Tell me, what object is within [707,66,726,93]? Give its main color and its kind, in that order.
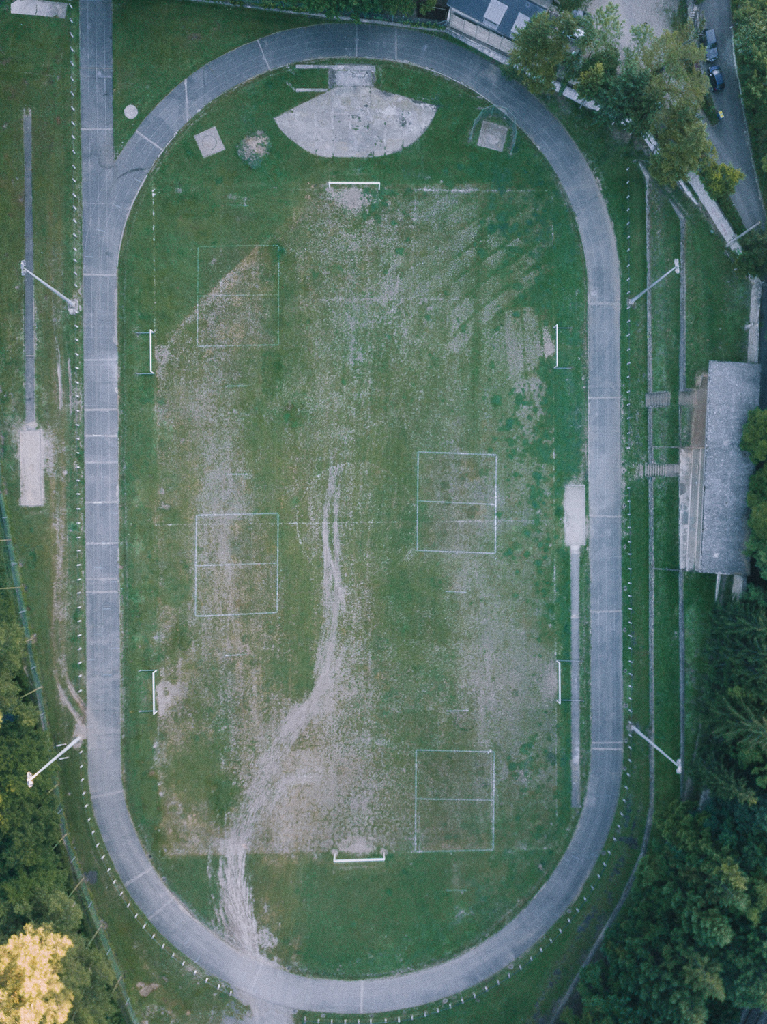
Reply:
blue car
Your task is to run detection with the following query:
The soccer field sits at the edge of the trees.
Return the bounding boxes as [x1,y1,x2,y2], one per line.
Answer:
[116,57,592,981]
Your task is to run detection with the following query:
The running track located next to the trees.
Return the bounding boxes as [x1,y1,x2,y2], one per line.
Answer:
[80,0,624,1014]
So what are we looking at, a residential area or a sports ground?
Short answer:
sports ground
